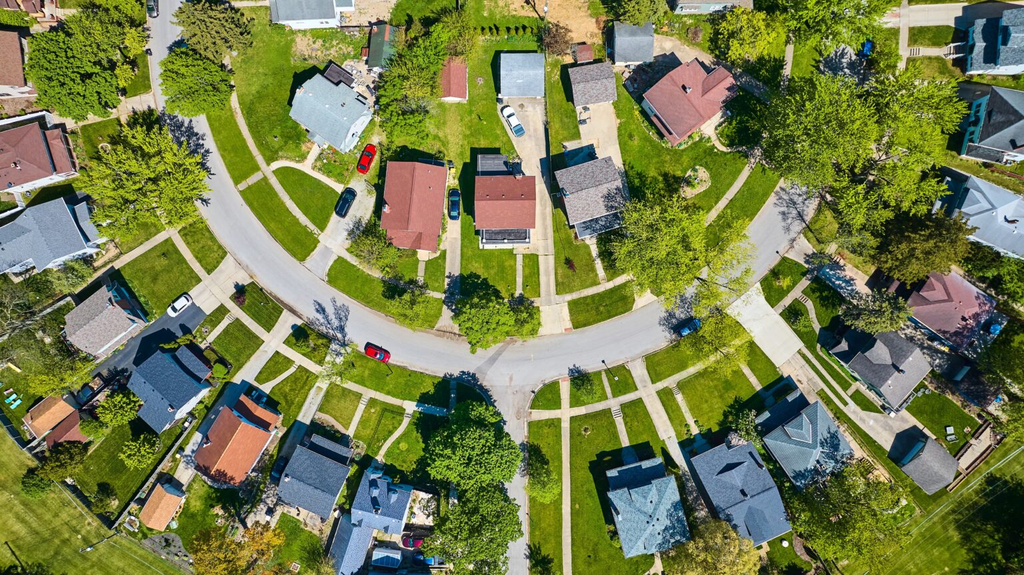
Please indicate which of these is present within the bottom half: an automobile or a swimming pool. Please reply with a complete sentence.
You can see an automobile within the bottom half.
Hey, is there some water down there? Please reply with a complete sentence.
No, there is no water in the image.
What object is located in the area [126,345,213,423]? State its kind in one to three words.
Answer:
house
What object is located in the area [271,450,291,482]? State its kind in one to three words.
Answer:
car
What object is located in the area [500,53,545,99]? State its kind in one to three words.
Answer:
building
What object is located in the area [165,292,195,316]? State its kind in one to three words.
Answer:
car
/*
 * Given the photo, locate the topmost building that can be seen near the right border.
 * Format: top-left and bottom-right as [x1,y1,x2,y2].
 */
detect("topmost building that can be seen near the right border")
[941,7,1024,77]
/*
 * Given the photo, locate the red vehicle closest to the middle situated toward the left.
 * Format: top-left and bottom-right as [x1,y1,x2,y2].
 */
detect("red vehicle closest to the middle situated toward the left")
[363,343,392,362]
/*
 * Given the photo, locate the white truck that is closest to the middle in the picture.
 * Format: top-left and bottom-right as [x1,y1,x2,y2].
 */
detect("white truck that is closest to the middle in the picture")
[500,104,527,139]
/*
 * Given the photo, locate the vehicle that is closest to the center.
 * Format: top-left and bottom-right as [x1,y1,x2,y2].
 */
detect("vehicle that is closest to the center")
[447,189,461,220]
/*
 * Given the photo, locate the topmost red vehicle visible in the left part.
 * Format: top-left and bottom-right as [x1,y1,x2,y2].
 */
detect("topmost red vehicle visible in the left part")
[355,144,376,175]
